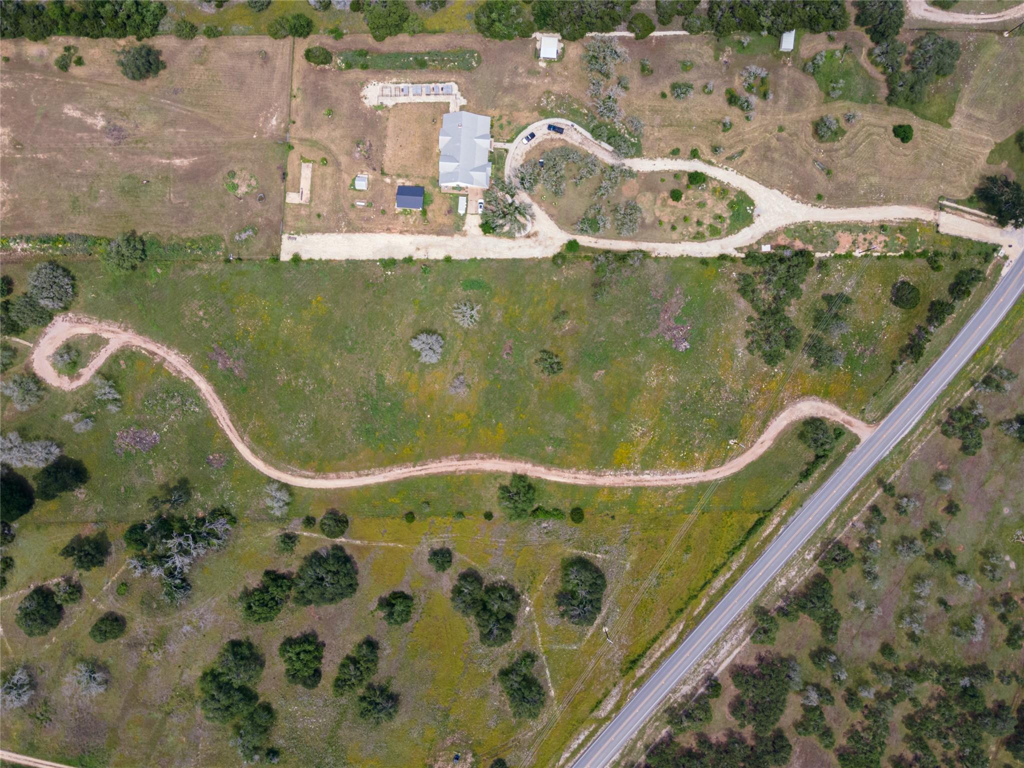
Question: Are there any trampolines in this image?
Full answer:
No, I can see no trampoline in this picture.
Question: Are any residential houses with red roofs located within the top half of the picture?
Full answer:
No, the scene shows no residential house with a red roof within the top half of the picture.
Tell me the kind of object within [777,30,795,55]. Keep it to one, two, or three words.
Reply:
shed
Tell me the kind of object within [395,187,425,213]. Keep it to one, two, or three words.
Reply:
shed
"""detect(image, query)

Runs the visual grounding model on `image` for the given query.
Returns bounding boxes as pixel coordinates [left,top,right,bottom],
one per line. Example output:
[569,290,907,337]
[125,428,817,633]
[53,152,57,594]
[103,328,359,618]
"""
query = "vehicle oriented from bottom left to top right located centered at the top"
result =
[521,130,537,145]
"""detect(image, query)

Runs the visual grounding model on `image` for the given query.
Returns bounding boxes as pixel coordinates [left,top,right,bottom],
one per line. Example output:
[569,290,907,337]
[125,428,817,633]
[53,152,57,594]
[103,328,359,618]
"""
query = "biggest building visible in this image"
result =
[436,111,494,190]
